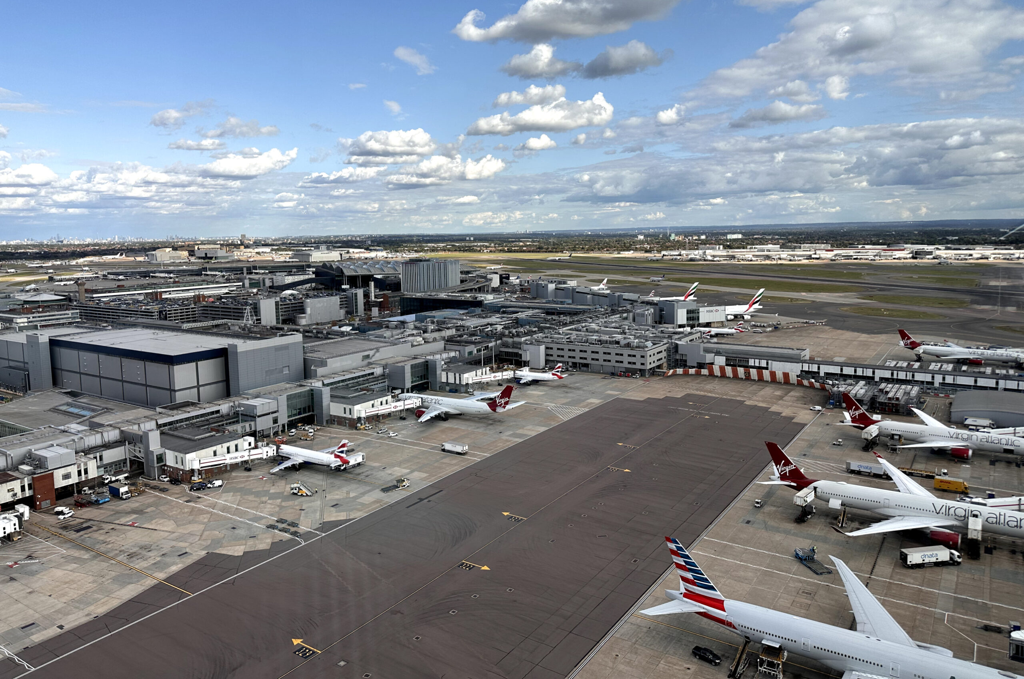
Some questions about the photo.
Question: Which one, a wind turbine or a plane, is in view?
plane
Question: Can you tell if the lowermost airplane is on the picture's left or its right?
right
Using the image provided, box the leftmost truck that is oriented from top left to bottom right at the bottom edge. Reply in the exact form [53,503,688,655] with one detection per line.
[692,646,721,668]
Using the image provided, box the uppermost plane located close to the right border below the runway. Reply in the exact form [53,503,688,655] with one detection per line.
[889,328,1024,364]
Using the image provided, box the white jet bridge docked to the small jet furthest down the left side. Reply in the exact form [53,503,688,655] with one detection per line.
[466,369,519,392]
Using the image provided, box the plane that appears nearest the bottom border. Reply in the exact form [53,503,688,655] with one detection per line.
[652,538,1024,679]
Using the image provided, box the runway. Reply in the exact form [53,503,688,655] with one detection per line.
[512,257,1024,298]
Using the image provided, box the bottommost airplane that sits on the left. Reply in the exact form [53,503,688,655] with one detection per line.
[277,442,362,471]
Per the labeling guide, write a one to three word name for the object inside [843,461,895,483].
truck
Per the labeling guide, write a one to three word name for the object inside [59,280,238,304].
building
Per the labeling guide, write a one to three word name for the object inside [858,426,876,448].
vehicle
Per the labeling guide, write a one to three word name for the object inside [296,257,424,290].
building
